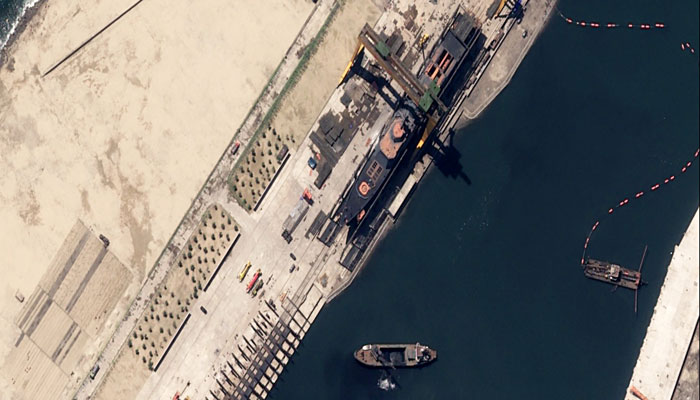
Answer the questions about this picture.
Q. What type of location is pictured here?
port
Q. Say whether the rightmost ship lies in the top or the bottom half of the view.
bottom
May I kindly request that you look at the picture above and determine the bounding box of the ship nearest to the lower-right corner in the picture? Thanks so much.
[584,245,649,312]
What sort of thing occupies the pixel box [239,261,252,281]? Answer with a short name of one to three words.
vehicle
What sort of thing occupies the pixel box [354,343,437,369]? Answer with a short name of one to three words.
ship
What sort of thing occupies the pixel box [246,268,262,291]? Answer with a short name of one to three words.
vehicle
